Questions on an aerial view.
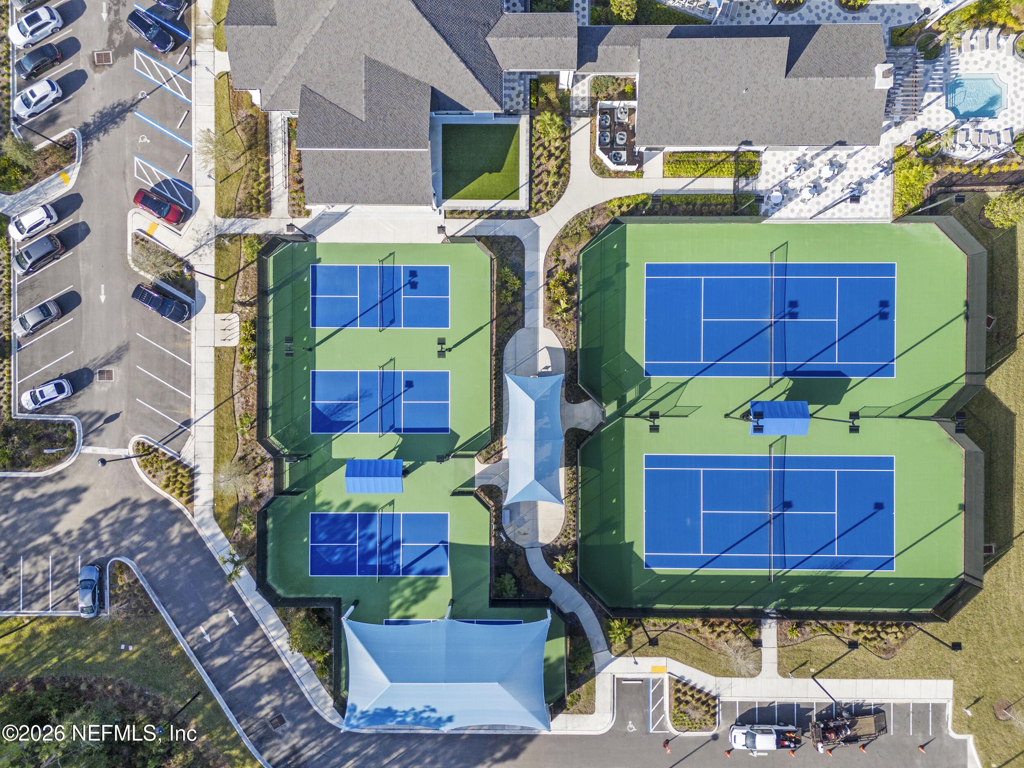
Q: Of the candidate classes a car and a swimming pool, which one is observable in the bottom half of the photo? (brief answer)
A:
car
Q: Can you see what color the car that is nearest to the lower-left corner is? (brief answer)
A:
blue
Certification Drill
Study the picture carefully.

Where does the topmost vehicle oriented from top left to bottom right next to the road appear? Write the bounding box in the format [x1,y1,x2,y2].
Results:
[124,7,176,55]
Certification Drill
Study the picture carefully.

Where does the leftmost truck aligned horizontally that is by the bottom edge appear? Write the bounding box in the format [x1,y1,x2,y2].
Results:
[730,722,804,755]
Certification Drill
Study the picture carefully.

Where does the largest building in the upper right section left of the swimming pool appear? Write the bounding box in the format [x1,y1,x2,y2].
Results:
[635,24,892,156]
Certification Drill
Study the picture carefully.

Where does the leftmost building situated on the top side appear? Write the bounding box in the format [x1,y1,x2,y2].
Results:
[224,0,504,215]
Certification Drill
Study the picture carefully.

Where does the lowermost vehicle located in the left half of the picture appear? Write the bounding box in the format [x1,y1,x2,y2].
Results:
[76,564,103,617]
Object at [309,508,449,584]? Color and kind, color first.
blue sports court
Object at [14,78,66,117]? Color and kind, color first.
white car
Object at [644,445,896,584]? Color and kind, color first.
blue tennis court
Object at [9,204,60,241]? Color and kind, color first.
white car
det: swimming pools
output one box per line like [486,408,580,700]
[943,69,1012,121]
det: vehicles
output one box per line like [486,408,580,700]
[132,187,186,227]
[124,7,176,55]
[5,0,51,15]
[10,6,64,48]
[13,299,65,336]
[730,722,804,755]
[14,78,66,117]
[12,233,67,274]
[129,283,191,325]
[20,379,75,410]
[9,204,60,241]
[151,0,187,16]
[76,564,103,617]
[15,42,65,80]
